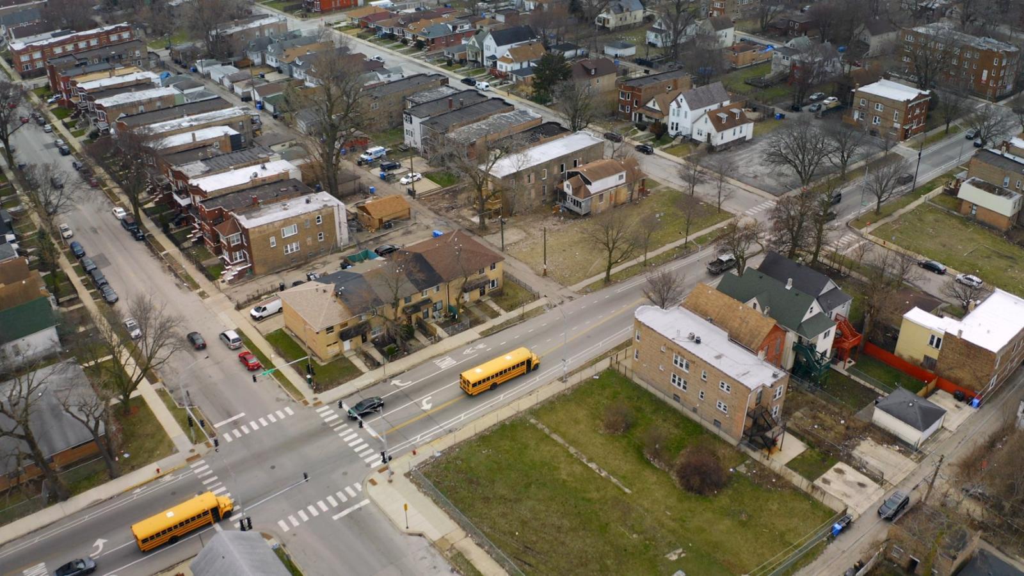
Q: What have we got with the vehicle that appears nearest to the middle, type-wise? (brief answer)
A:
bus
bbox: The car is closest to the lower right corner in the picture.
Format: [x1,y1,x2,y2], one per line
[877,479,911,517]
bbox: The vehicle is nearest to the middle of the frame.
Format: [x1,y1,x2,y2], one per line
[461,350,546,403]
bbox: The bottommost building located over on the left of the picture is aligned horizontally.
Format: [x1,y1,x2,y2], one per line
[181,521,302,576]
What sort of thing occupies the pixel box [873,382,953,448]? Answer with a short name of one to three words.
building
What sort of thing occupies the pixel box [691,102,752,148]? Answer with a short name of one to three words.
house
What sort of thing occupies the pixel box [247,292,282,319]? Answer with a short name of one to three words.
vehicle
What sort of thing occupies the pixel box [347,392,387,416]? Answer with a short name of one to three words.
car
